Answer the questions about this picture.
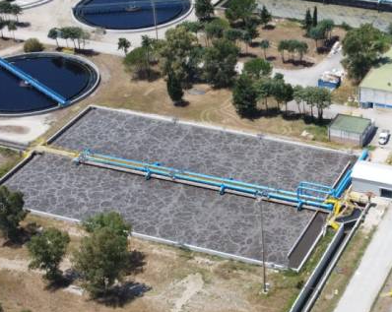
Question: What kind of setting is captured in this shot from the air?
industrial area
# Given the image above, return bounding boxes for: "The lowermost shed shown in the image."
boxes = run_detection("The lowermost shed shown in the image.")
[349,159,392,198]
